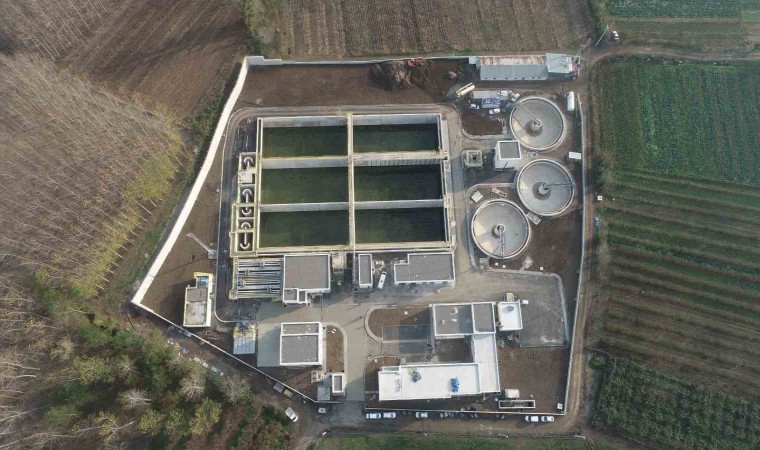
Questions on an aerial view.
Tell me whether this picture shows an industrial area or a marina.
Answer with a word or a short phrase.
industrial area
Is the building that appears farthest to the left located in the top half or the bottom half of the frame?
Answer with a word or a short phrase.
bottom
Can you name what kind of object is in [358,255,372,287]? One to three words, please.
building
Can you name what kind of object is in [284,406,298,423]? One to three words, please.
vehicle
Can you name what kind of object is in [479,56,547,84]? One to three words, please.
shed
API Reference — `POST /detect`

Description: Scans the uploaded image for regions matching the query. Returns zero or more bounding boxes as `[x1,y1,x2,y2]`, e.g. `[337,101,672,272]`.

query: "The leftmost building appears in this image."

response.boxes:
[183,273,215,327]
